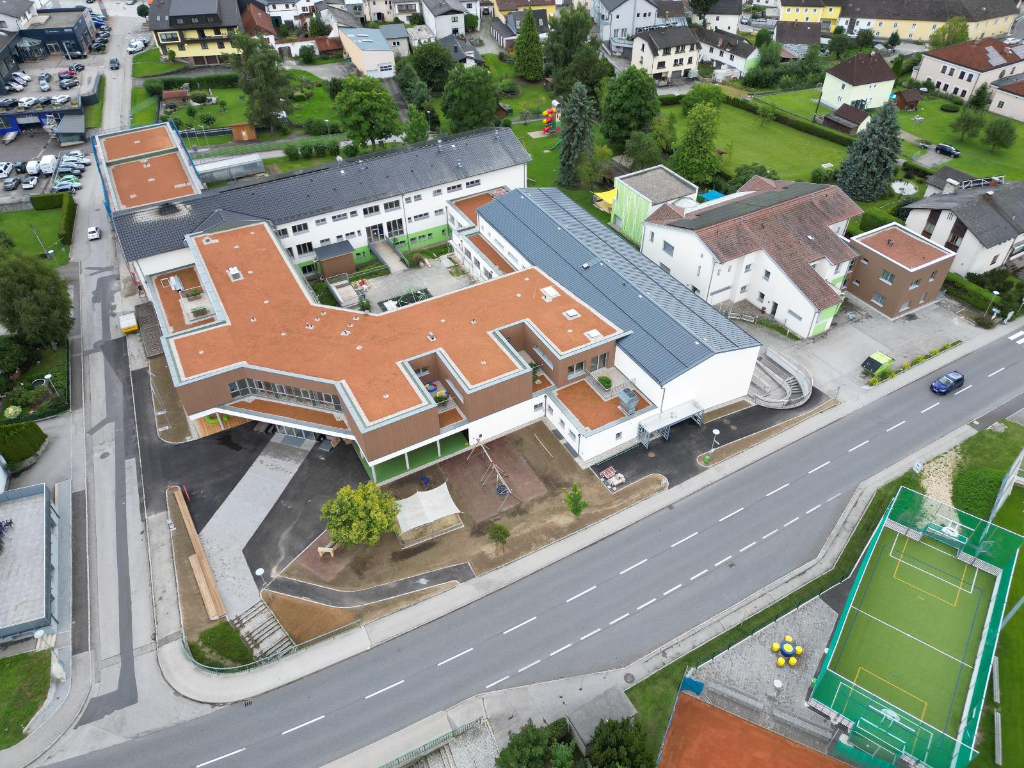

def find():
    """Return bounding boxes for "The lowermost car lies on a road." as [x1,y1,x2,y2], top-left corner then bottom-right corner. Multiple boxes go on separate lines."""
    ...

[928,367,967,395]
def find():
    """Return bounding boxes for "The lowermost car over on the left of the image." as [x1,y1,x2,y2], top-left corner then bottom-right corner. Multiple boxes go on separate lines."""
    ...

[87,226,103,242]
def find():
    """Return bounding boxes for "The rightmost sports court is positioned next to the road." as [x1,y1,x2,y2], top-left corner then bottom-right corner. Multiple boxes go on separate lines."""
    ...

[804,488,1024,768]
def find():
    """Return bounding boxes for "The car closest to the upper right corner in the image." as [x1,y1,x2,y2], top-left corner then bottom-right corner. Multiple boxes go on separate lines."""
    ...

[934,142,962,158]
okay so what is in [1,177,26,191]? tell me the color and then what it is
gray car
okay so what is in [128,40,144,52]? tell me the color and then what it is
white vehicle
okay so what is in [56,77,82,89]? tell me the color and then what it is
gray vehicle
